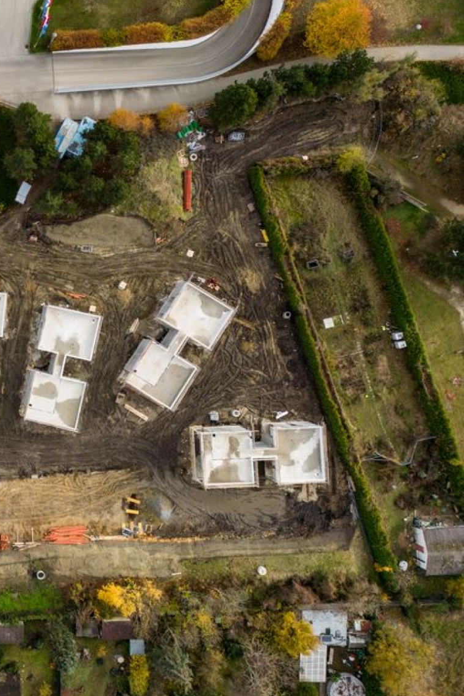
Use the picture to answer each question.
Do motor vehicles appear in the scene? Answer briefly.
No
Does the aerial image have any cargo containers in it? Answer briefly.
No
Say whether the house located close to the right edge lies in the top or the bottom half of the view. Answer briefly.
bottom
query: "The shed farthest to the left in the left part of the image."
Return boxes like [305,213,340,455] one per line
[0,619,24,643]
